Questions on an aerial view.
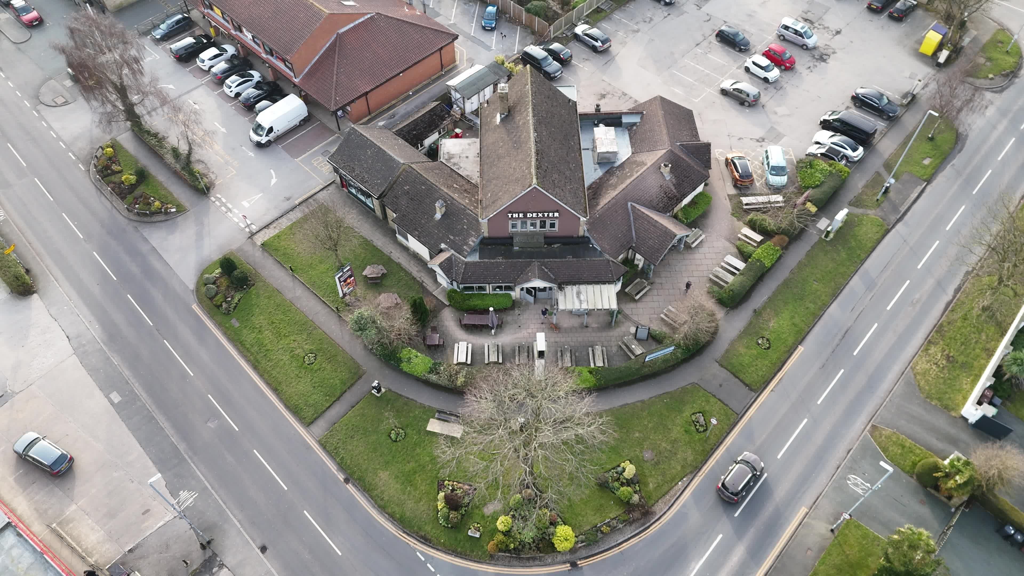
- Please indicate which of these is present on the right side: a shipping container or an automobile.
automobile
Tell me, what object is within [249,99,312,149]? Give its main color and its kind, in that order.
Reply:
white van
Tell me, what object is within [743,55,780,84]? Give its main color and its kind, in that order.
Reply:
white car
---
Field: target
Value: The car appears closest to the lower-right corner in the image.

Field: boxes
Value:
[718,451,768,507]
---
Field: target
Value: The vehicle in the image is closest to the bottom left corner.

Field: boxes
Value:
[8,433,75,481]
